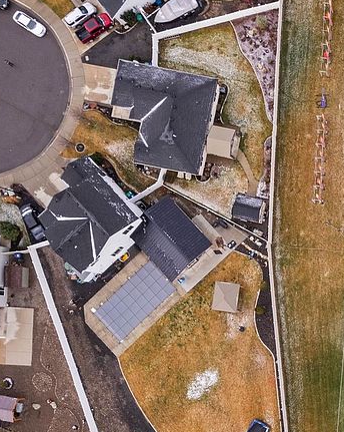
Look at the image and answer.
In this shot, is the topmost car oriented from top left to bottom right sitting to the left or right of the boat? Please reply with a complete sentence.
Looking at the photo, the topmost car oriented from top left to bottom right lies to the left of the boat.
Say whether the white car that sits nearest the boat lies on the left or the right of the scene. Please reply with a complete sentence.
The white car that sits nearest the boat is on the left side of the image.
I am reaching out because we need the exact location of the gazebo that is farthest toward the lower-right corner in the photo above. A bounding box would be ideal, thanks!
[212,282,244,313]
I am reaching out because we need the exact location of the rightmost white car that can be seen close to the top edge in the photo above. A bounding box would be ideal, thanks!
[62,1,97,26]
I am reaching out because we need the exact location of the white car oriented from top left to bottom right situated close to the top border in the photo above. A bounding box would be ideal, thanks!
[9,7,43,35]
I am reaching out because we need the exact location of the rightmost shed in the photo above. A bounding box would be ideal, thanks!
[231,193,267,224]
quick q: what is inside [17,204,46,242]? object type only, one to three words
truck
